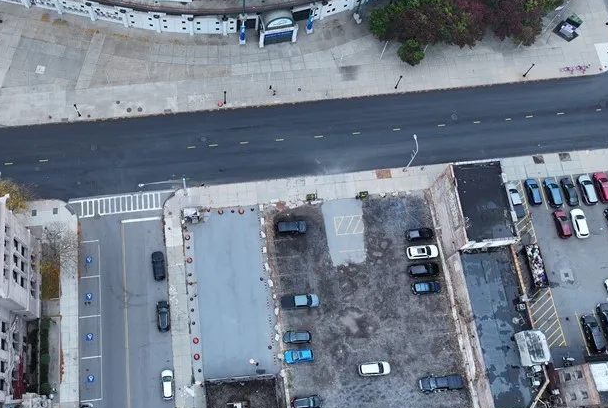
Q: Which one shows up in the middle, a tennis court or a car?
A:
car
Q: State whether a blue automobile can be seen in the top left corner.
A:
No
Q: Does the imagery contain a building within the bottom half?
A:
Yes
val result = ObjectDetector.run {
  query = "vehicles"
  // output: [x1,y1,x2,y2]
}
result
[567,209,592,239]
[601,277,608,294]
[282,347,316,365]
[542,179,565,208]
[591,173,608,202]
[523,178,545,207]
[408,260,440,278]
[290,392,324,408]
[280,328,313,346]
[592,301,608,338]
[557,178,580,207]
[575,176,599,205]
[579,315,607,350]
[406,243,438,260]
[276,219,307,235]
[411,279,440,295]
[404,225,436,242]
[504,182,531,218]
[154,300,171,333]
[357,360,391,378]
[158,367,175,403]
[150,251,166,282]
[281,292,319,310]
[420,374,462,392]
[552,210,574,237]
